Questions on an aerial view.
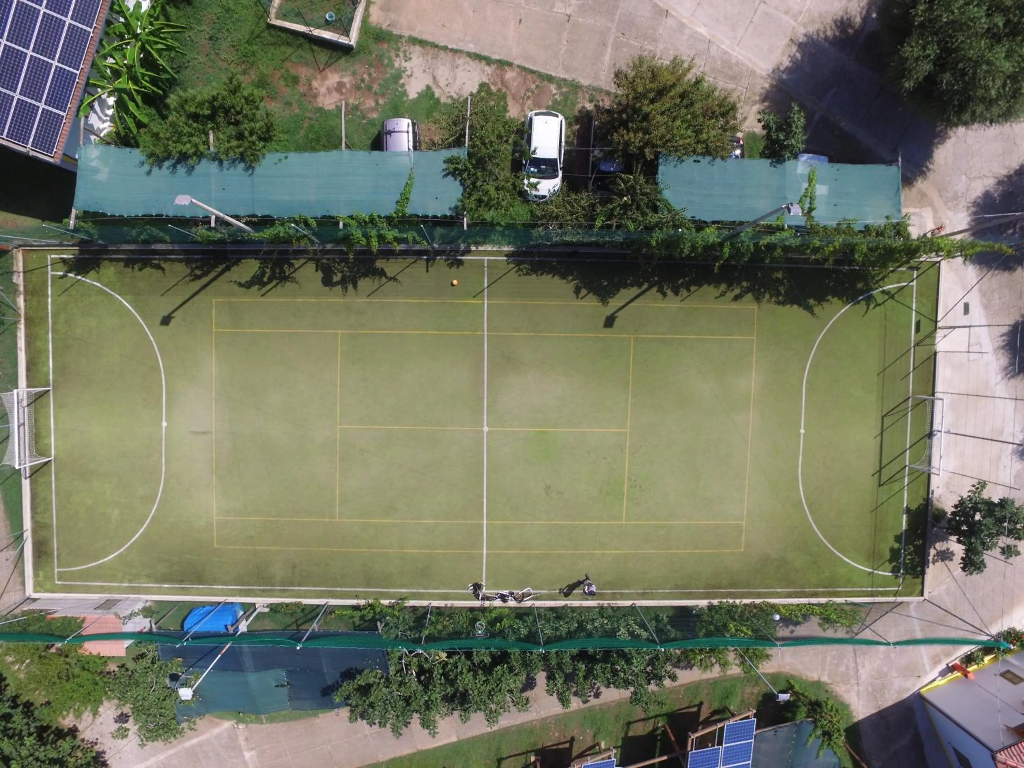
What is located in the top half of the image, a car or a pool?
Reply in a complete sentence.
Visible in the top half of the image is a car.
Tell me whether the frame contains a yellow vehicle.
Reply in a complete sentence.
No, I can't see a single yellow vehicle in this photo.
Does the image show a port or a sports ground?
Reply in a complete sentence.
This image shows a sports ground.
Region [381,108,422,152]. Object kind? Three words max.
car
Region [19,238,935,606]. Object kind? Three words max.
sports field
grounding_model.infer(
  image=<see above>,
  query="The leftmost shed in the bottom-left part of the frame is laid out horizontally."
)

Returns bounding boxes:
[26,603,170,656]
